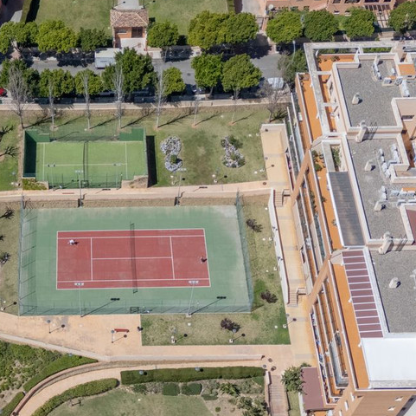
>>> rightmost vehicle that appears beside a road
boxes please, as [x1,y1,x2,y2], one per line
[258,72,293,90]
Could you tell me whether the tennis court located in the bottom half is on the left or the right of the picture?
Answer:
left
